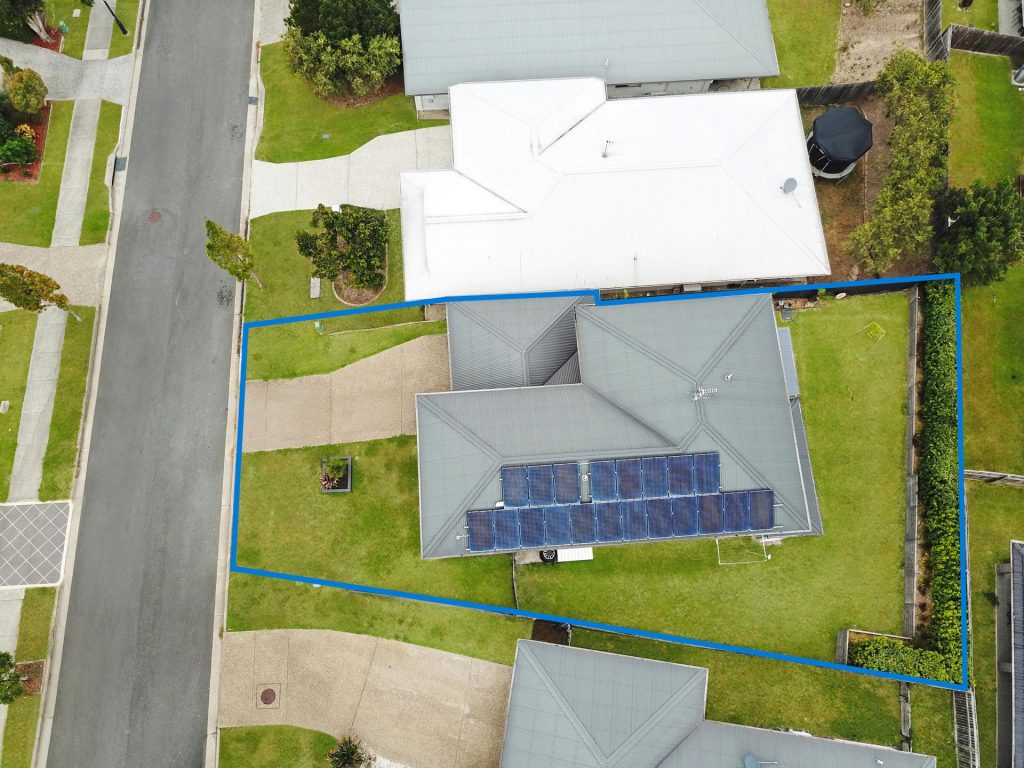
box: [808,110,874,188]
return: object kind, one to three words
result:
trampoline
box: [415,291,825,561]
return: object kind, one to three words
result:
house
